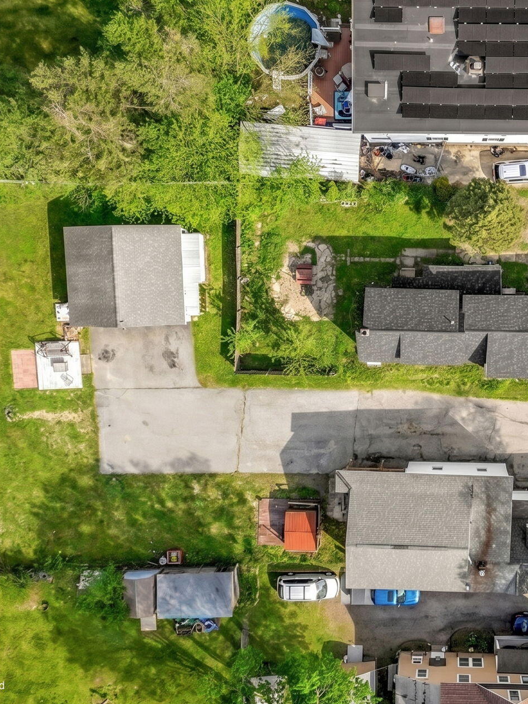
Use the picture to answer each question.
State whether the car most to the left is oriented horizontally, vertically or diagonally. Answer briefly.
horizontally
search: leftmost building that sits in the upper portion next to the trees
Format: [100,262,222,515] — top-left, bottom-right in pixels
[64,225,191,327]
